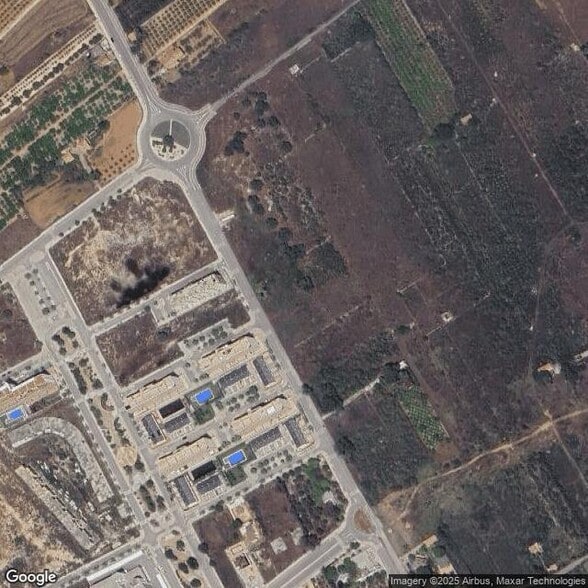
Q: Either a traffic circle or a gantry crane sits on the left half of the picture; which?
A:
traffic circle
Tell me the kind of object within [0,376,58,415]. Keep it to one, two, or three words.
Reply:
building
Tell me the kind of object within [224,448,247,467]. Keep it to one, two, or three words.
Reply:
swimming pool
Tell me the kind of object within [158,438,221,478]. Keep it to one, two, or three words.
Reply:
building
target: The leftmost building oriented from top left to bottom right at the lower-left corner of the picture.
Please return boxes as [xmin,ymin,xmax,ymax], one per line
[15,465,99,549]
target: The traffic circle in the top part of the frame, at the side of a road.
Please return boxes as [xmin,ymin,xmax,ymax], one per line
[123,86,211,193]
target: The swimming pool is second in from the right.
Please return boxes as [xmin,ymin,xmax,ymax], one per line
[194,388,215,405]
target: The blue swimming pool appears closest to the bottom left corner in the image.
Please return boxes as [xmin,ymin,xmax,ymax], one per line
[4,407,26,422]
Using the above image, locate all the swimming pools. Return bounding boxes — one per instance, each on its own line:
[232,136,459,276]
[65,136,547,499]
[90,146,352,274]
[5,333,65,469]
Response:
[224,448,247,467]
[194,388,215,405]
[4,407,26,422]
